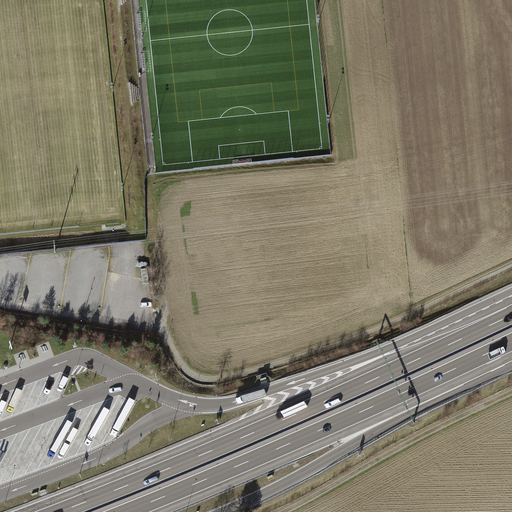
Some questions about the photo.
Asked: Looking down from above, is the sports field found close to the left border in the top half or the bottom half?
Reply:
top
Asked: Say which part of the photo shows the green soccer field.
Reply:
top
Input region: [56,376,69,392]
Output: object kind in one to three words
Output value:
vehicle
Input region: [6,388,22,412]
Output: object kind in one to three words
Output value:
vehicle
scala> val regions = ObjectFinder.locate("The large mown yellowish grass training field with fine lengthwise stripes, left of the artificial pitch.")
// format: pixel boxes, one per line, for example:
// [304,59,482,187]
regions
[0,0,126,235]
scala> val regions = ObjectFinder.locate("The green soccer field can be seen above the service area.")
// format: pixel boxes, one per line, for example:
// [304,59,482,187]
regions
[138,0,330,170]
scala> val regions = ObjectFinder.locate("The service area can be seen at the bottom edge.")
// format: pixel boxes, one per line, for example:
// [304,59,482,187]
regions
[0,342,304,502]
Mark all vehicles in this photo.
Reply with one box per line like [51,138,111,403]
[46,420,72,458]
[324,398,341,408]
[6,388,22,412]
[432,374,444,382]
[234,389,266,406]
[322,424,332,432]
[275,400,307,420]
[83,407,109,446]
[140,302,152,307]
[108,398,134,438]
[57,427,78,460]
[488,346,506,358]
[504,314,512,321]
[143,474,158,484]
[406,388,417,396]
[56,376,69,392]
[109,386,122,392]
[42,382,54,396]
